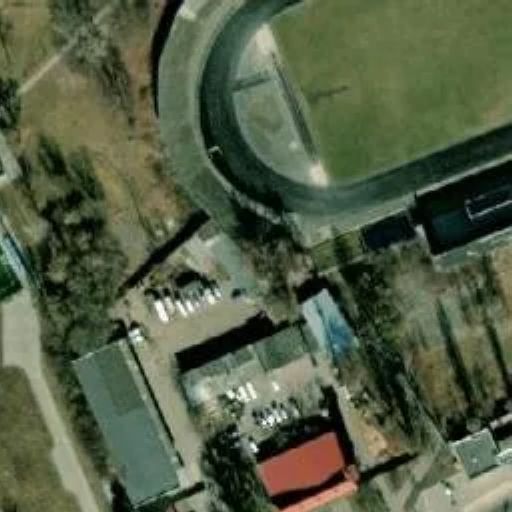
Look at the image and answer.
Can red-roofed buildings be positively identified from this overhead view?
Yes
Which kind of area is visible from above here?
sports ground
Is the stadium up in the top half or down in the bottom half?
top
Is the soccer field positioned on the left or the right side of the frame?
right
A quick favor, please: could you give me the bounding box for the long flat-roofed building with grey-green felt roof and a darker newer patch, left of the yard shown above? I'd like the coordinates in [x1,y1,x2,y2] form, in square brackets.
[72,338,188,508]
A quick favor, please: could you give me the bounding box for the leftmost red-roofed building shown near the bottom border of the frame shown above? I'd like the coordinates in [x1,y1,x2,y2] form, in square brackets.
[257,432,358,512]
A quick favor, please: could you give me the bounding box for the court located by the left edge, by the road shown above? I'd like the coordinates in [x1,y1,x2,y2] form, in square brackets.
[0,252,20,300]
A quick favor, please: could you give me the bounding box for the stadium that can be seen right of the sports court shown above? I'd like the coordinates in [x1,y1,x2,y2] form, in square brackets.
[157,0,512,268]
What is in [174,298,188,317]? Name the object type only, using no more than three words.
vehicle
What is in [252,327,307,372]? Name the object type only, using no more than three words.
building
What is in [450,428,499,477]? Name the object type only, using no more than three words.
building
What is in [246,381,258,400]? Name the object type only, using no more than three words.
vehicle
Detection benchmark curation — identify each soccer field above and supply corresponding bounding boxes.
[232,0,512,188]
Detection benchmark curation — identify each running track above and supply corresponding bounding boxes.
[197,0,512,219]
